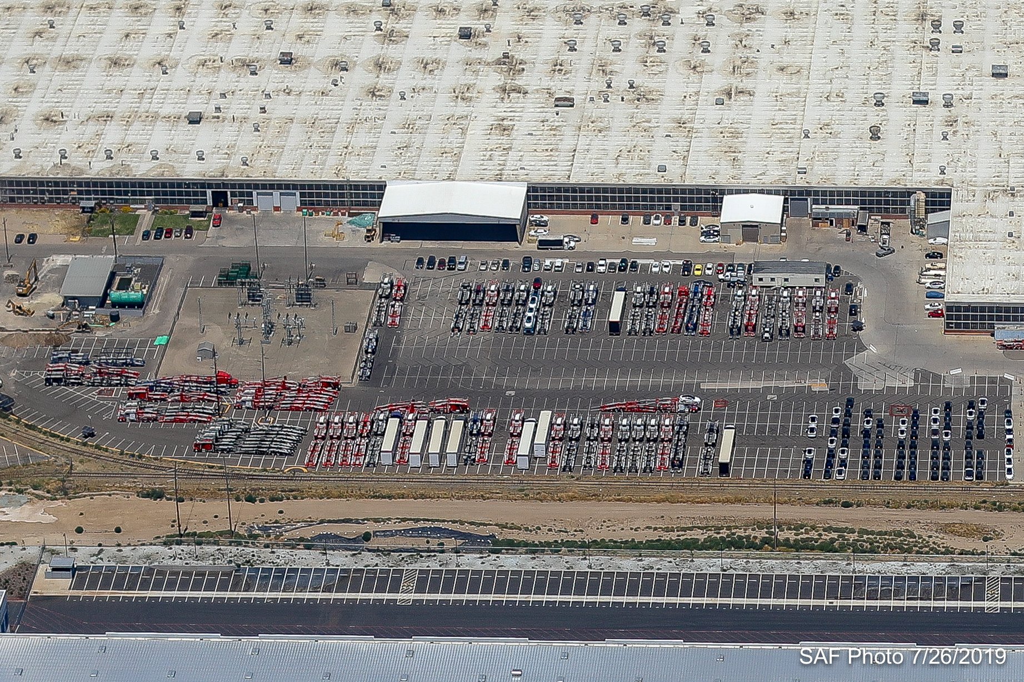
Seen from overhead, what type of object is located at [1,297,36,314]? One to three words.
work vehicle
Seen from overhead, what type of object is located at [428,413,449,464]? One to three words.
truck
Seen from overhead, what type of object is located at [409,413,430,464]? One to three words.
truck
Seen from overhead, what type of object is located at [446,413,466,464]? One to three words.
vehicle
